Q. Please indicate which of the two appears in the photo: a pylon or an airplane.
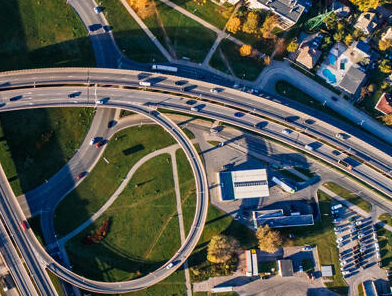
pylon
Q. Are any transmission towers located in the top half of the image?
Yes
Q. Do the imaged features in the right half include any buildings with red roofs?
Yes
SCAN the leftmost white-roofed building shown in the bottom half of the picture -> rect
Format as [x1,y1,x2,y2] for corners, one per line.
[219,169,268,199]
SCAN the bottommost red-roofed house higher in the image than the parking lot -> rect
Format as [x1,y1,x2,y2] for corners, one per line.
[371,91,392,117]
